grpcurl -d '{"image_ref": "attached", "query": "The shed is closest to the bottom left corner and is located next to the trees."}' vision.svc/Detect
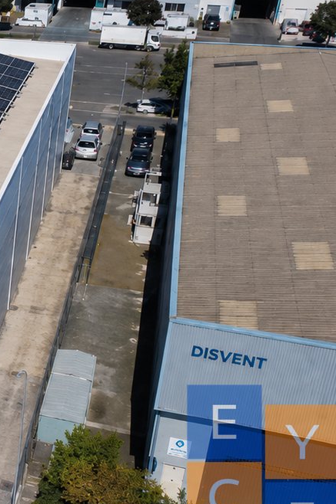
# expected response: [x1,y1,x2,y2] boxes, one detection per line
[41,344,101,451]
